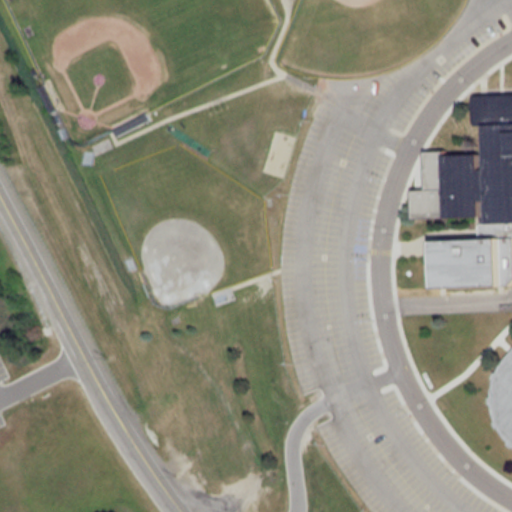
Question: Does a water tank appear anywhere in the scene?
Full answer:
No, the picture doesn't show any water tank.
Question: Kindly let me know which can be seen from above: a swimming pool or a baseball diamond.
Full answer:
Looking from above, you can make out a baseball diamond.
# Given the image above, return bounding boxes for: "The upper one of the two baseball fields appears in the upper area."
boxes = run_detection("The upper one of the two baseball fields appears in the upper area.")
[2,0,280,143]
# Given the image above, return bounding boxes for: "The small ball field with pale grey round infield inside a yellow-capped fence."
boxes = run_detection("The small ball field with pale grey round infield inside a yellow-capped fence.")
[102,146,271,306]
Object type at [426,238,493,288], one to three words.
building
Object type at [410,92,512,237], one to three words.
building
